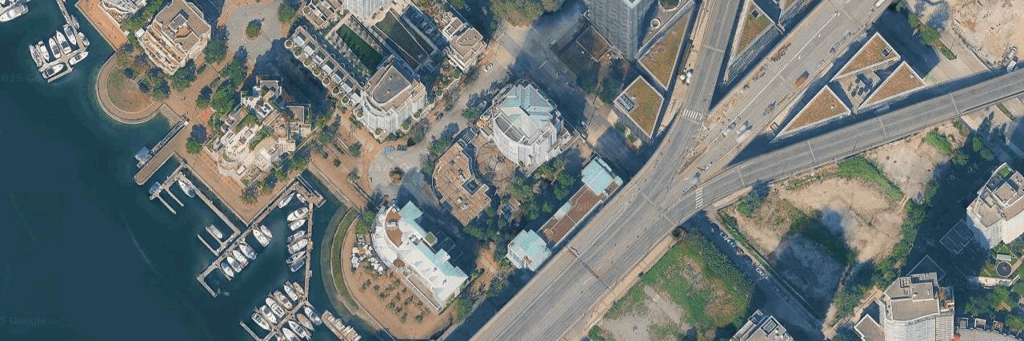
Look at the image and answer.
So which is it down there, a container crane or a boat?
boat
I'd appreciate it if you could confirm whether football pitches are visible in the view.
No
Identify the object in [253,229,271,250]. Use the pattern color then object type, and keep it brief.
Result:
white boat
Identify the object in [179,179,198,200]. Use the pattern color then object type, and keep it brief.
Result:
white boat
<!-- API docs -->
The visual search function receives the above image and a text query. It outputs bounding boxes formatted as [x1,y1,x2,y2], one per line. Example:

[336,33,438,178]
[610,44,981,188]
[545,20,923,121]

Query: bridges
[470,0,1024,341]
